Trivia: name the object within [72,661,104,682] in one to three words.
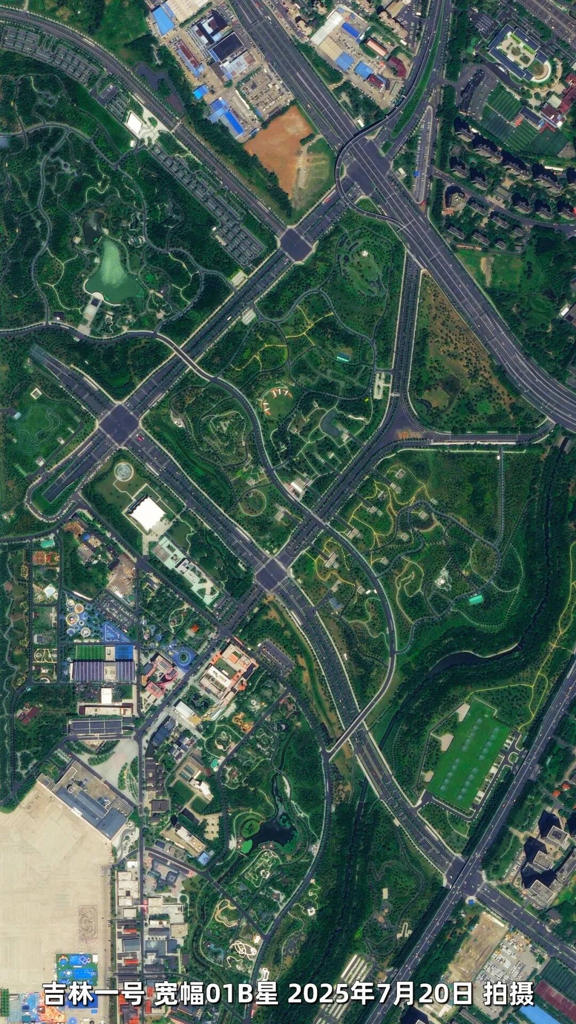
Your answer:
building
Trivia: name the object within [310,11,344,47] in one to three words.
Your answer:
building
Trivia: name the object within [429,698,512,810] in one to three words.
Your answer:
sports field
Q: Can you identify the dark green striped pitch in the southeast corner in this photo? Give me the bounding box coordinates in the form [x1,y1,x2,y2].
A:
[541,958,576,1002]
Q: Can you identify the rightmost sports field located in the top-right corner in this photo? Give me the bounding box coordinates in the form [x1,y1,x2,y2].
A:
[528,129,569,155]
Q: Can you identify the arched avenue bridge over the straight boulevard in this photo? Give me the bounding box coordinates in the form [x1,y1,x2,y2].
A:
[150,330,218,383]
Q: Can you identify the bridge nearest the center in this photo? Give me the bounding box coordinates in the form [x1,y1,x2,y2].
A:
[277,486,352,551]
